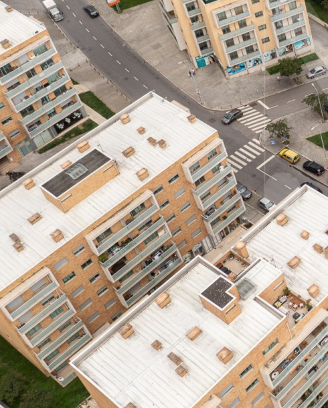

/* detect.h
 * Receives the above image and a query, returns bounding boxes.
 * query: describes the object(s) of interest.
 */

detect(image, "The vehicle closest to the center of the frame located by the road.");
[235,183,256,200]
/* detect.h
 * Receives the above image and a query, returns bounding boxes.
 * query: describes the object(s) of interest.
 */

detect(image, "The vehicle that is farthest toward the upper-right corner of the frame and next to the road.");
[304,66,327,80]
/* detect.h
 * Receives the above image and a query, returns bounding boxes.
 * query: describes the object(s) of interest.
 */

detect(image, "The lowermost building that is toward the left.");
[0,92,247,380]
